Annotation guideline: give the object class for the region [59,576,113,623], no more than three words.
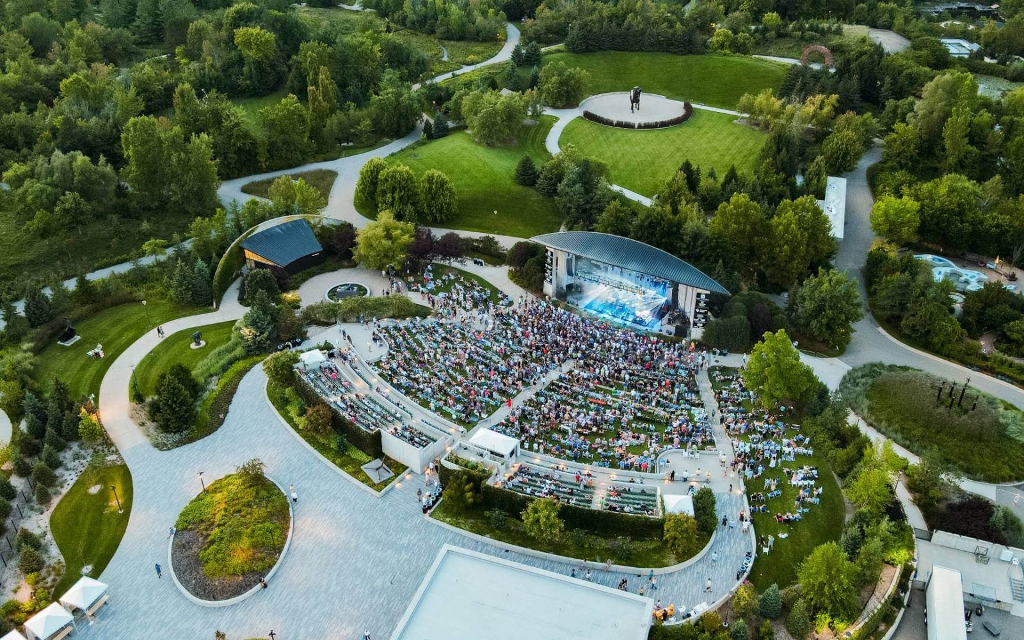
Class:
tent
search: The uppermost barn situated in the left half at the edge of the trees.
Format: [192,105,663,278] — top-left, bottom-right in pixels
[241,218,323,286]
